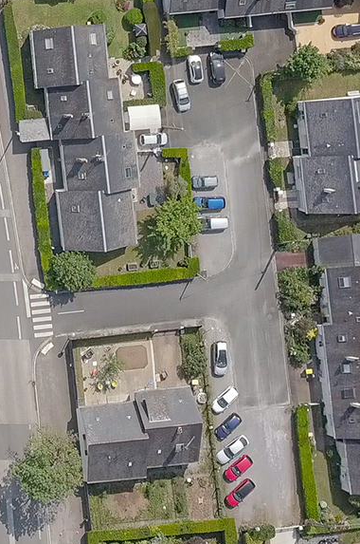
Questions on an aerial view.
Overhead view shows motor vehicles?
Yes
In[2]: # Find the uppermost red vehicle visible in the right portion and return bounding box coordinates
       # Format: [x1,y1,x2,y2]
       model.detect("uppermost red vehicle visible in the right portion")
[223,454,253,481]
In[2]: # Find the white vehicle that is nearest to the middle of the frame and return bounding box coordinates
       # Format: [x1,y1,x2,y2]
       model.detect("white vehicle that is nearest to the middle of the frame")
[195,216,231,232]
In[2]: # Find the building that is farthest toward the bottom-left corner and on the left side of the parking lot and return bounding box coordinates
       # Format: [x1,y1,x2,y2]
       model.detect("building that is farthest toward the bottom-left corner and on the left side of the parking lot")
[77,401,148,484]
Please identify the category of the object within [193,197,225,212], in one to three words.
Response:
car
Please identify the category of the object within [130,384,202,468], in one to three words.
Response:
house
